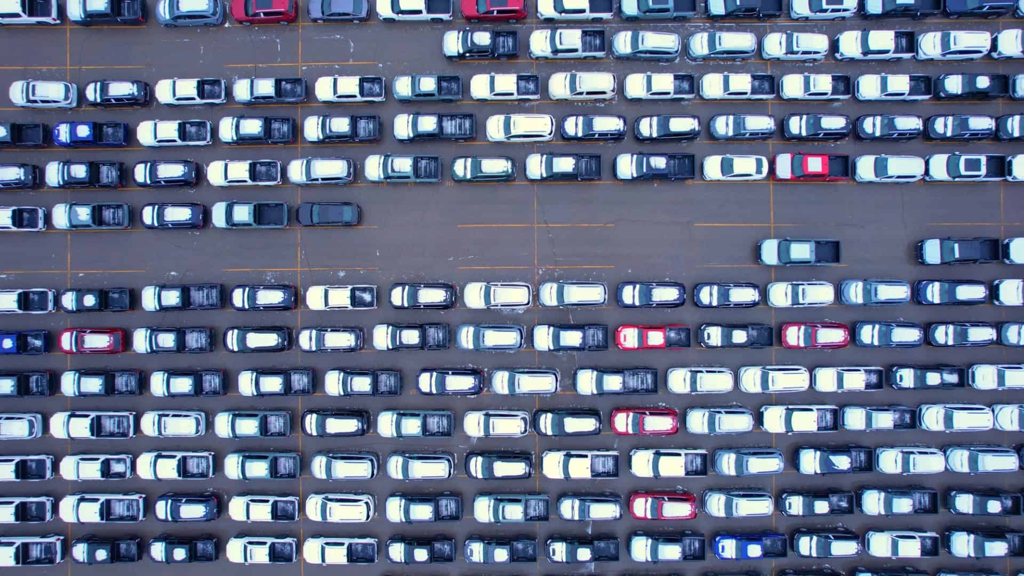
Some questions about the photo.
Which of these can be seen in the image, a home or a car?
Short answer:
car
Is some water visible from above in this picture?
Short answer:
No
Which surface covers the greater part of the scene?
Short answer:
paved ground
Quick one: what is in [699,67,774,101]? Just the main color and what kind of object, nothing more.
white truck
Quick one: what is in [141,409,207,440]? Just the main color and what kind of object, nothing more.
white car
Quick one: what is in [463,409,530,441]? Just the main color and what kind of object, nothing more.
white car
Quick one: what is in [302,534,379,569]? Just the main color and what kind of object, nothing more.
white truck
